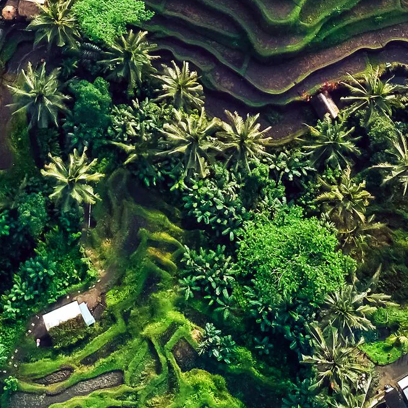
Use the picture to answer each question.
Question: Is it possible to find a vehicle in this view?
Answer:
No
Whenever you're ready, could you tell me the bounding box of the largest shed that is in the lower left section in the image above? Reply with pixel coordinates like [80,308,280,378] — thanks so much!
[42,295,93,343]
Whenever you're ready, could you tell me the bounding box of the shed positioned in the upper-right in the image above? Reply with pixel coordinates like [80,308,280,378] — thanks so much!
[303,86,343,124]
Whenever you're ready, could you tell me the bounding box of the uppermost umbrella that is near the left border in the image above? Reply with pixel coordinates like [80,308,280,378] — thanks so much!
[2,5,17,19]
